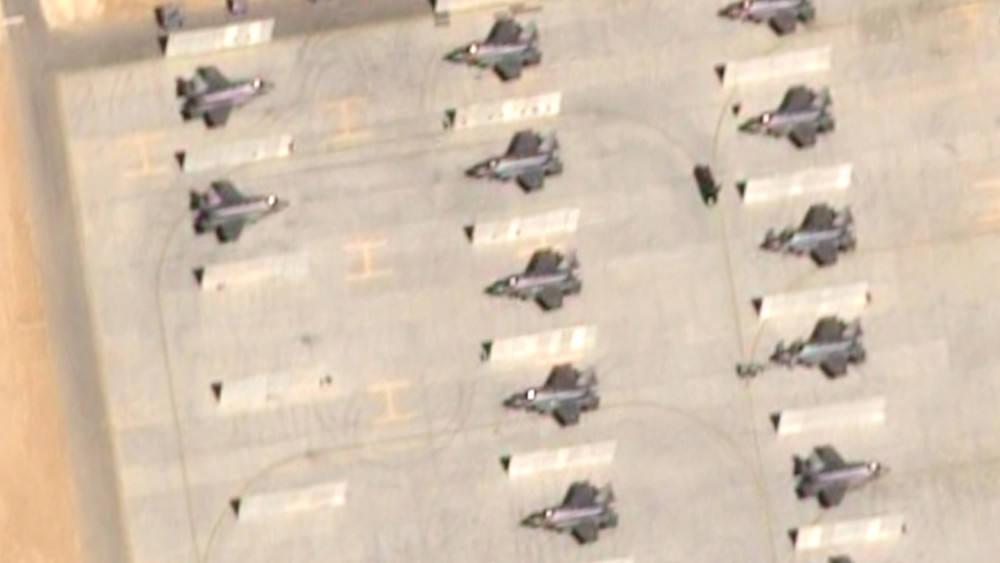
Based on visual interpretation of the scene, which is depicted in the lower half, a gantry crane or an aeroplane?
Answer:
aeroplane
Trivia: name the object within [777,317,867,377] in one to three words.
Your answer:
airplane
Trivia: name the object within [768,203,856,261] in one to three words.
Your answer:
airplane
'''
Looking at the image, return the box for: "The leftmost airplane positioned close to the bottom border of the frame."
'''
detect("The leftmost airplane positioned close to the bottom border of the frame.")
[528,479,620,540]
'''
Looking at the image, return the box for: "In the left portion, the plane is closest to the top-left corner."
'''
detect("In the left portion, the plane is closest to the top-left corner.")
[184,62,274,122]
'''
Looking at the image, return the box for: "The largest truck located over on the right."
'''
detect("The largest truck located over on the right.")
[694,164,723,211]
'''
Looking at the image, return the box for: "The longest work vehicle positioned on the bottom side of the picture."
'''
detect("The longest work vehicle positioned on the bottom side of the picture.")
[736,363,775,380]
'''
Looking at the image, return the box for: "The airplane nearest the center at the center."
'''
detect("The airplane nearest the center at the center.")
[492,248,583,307]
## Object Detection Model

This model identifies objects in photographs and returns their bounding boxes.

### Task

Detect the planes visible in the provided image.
[492,248,583,307]
[777,317,867,377]
[473,131,563,189]
[727,0,814,30]
[746,86,834,144]
[452,17,542,75]
[803,445,890,504]
[528,479,620,540]
[510,363,602,423]
[768,203,856,261]
[184,62,274,122]
[197,179,288,239]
